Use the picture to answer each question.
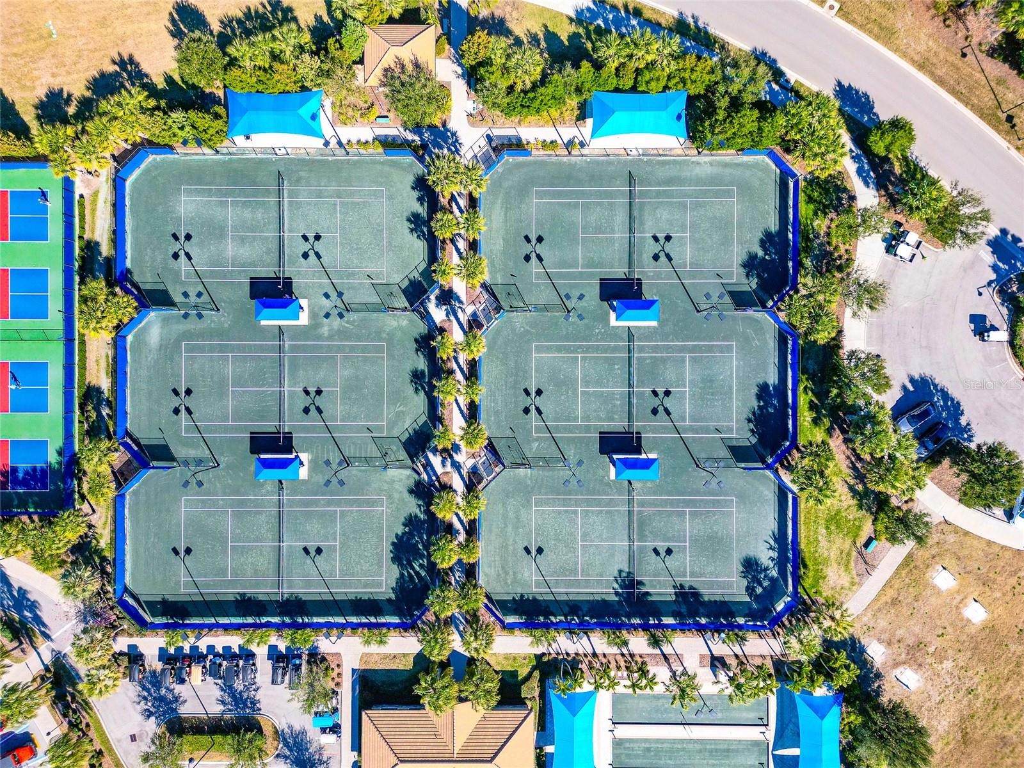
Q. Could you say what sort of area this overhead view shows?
sports ground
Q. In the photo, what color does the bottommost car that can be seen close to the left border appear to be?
red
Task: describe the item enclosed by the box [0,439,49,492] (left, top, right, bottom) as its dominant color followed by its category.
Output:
blue sports court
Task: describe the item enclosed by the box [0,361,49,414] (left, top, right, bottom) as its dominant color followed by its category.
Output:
blue sports court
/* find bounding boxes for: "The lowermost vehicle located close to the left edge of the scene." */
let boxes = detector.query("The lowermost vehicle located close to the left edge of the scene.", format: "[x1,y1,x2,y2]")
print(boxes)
[2,740,41,768]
